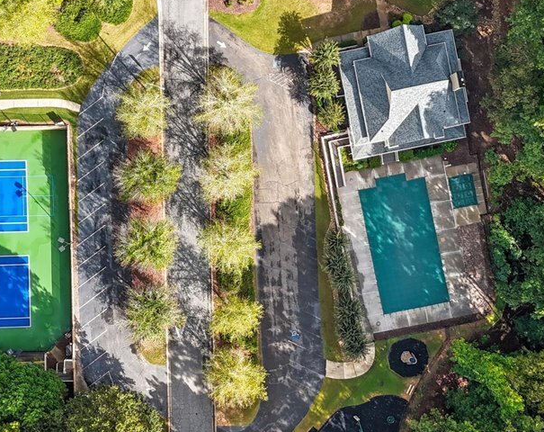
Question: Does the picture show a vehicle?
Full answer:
No, there's no vehicle here.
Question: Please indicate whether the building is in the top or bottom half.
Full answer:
You can find the building in the top half.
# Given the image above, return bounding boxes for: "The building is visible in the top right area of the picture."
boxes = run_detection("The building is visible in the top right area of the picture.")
[334,24,472,164]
